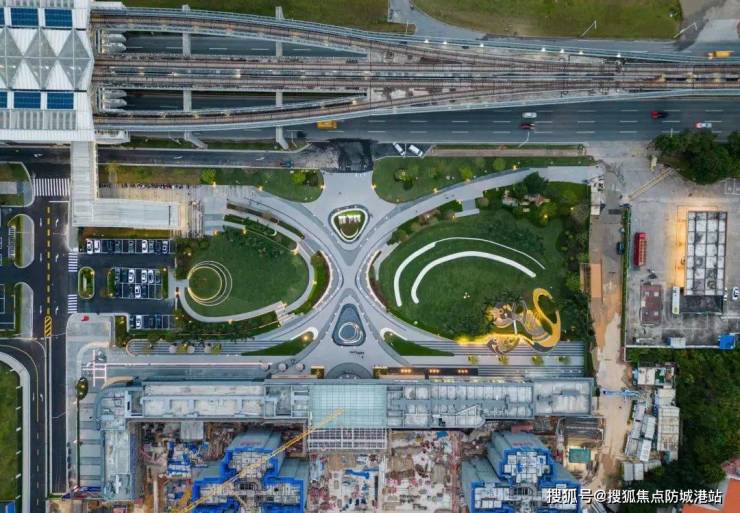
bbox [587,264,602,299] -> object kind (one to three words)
shed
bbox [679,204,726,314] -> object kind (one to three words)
building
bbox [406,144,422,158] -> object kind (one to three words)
vehicle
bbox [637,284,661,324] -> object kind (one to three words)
shed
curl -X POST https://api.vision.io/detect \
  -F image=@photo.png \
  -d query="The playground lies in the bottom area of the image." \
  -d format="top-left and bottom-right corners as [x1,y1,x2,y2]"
[454,288,561,354]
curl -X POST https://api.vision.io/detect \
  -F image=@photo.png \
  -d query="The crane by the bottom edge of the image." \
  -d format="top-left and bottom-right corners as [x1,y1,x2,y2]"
[166,408,344,513]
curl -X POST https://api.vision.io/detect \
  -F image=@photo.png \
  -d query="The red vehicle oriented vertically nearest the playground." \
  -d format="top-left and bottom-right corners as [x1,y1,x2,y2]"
[631,233,644,267]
